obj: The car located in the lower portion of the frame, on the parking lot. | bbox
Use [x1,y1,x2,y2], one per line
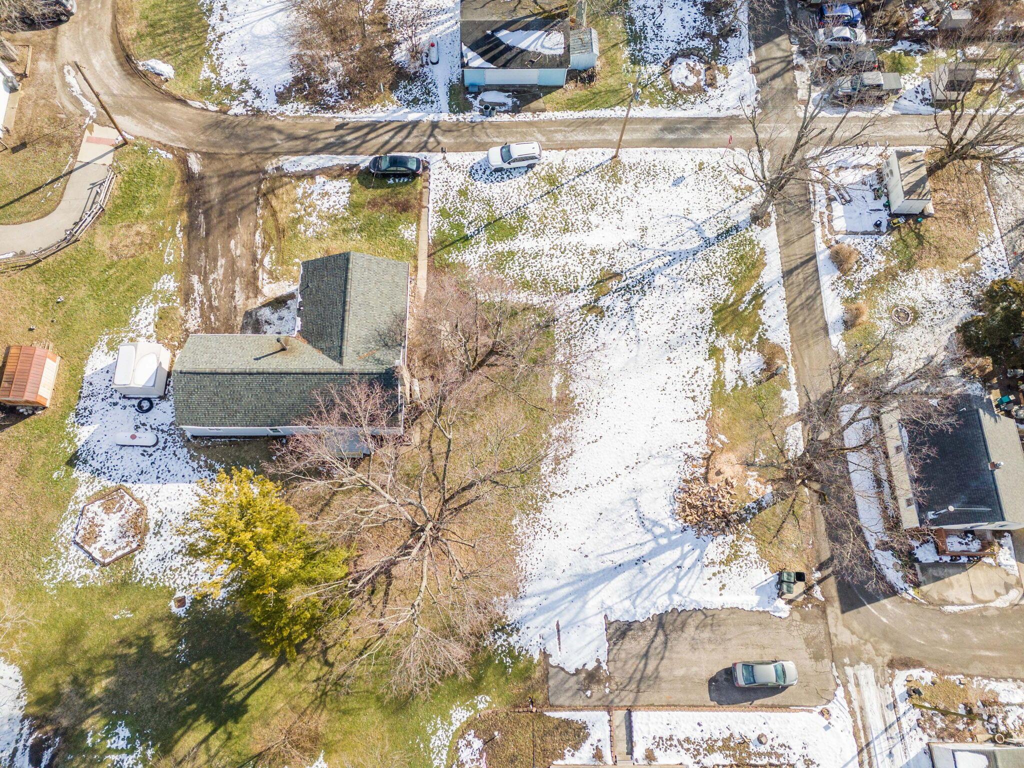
[731,658,798,689]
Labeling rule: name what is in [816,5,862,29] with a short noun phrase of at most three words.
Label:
car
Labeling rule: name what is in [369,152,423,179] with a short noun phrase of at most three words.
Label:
car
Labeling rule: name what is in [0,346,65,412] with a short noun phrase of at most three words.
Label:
shed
